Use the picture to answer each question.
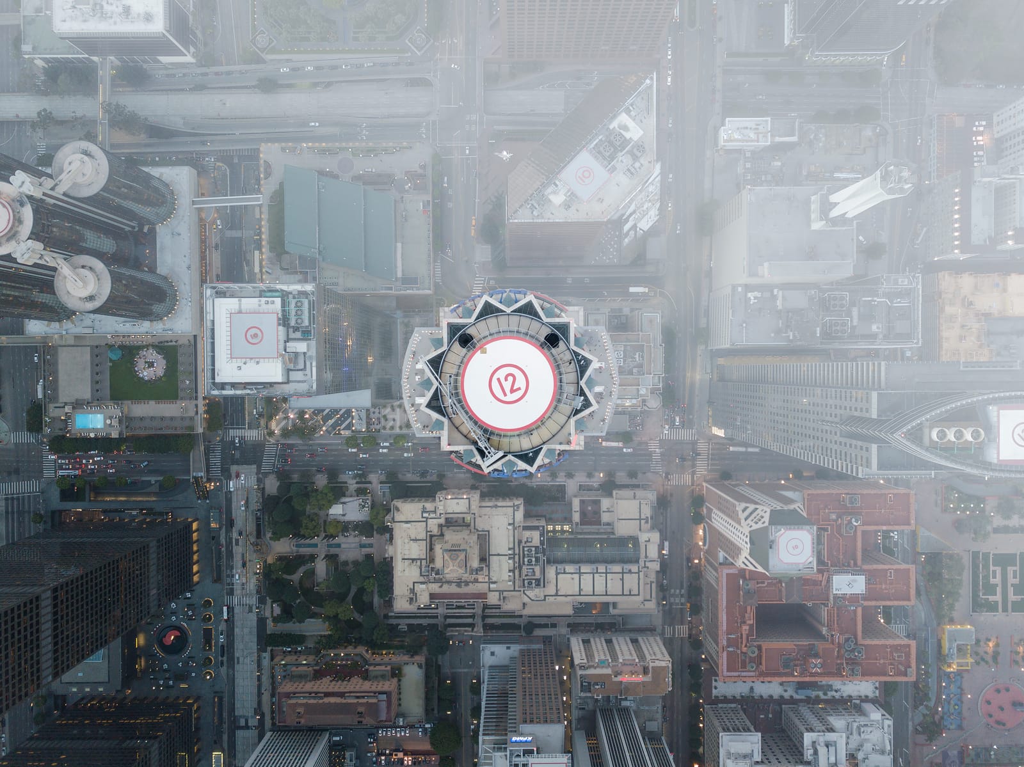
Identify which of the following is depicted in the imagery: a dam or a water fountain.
water fountain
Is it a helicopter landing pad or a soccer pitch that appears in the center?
helicopter landing pad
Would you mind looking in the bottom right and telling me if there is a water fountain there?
Yes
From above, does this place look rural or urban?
urban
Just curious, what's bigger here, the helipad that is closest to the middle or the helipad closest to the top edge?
the helipad that is closest to the middle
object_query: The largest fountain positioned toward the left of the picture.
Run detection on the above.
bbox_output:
[154,620,191,656]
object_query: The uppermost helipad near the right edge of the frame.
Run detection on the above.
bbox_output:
[996,405,1024,464]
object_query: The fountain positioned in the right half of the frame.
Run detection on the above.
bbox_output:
[977,679,1024,730]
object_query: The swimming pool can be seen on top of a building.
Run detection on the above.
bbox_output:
[75,414,104,429]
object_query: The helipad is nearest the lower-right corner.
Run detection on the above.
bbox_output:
[833,574,865,596]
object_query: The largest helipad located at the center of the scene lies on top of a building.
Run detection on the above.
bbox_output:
[461,336,557,432]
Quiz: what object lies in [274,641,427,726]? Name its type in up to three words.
building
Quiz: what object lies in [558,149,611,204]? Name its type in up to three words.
helipad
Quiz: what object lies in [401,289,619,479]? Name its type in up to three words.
building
